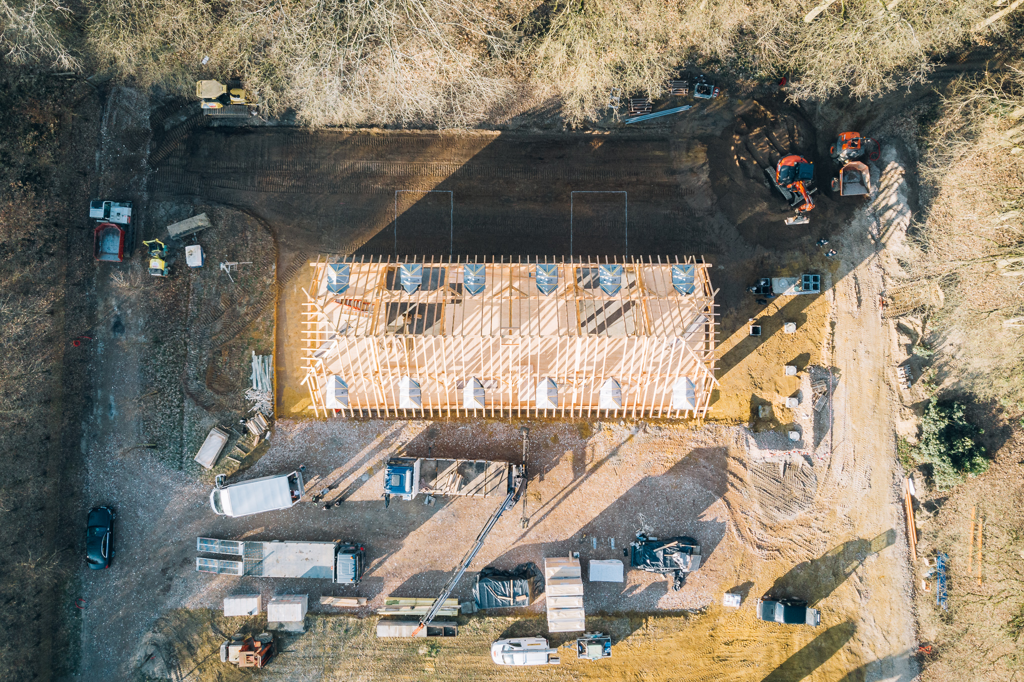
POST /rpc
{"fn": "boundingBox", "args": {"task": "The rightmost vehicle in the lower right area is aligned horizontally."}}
[750,590,824,628]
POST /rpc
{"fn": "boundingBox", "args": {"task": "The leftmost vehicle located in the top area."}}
[84,200,144,263]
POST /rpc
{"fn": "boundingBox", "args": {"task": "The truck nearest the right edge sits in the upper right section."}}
[828,131,875,194]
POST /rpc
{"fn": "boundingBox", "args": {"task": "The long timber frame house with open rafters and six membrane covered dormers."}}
[300,256,721,421]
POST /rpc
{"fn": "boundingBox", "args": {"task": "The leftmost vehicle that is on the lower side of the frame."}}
[83,504,120,569]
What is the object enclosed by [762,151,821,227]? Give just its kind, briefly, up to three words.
work vehicle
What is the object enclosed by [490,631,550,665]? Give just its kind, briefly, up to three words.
van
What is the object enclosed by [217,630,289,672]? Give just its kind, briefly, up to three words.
work vehicle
